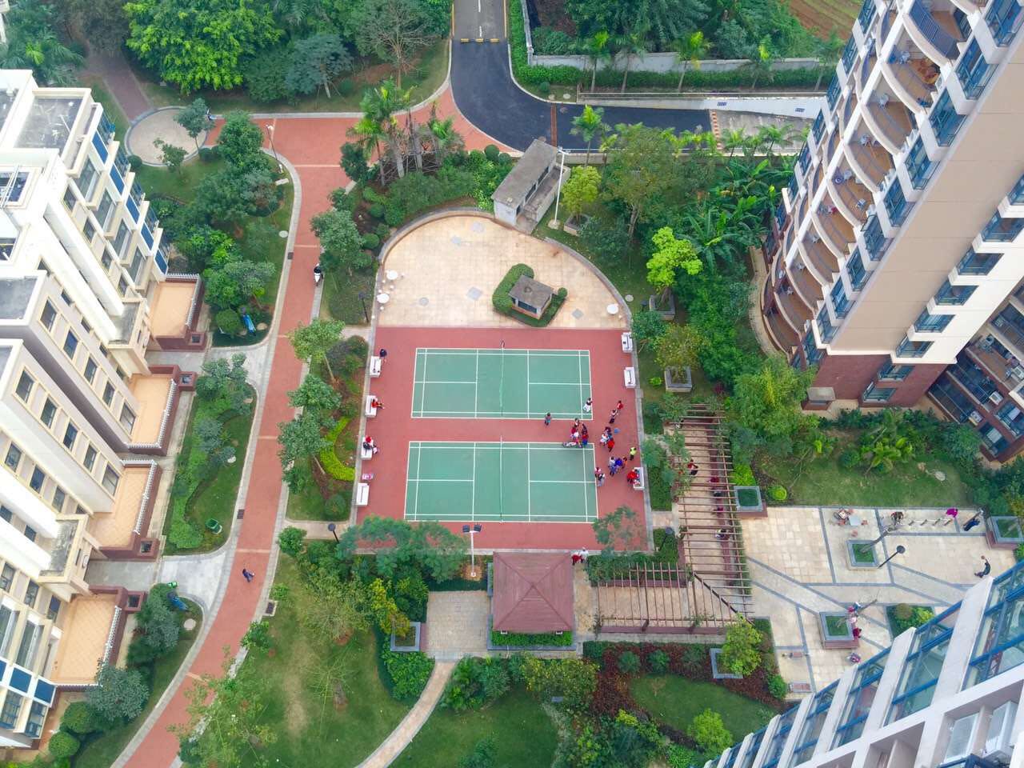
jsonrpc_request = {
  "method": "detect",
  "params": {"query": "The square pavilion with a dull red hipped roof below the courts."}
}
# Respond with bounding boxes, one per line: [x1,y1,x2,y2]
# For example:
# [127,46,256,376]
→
[486,550,579,662]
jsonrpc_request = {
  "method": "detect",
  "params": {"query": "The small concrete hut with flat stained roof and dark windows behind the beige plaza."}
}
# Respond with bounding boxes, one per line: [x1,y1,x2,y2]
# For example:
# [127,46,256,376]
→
[493,139,573,236]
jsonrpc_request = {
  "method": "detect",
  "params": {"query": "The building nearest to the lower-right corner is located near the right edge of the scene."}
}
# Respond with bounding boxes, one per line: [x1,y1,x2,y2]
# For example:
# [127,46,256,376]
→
[690,553,1024,768]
